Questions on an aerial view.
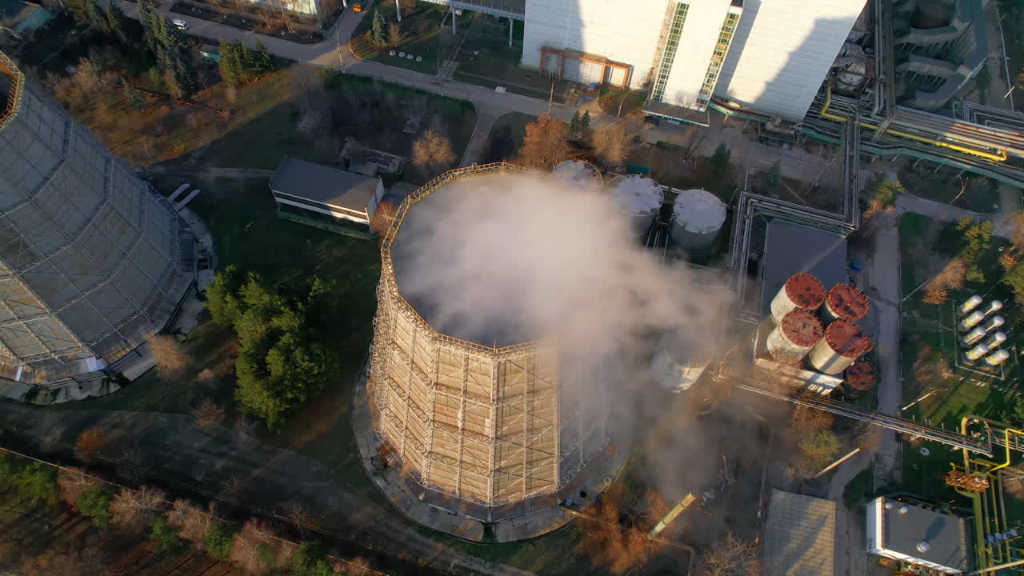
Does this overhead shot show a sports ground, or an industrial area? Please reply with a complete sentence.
This looks like an industrial area.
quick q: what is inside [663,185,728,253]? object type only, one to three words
storage tank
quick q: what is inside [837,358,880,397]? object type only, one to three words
storage tank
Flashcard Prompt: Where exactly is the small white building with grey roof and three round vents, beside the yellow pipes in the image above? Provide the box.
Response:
[871,488,974,575]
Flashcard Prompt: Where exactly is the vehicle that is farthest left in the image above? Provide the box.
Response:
[169,16,187,28]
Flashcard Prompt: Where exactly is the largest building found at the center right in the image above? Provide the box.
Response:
[755,218,847,327]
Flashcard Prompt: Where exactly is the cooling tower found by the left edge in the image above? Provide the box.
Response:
[0,49,216,408]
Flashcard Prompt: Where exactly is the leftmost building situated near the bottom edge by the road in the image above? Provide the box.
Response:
[757,489,838,576]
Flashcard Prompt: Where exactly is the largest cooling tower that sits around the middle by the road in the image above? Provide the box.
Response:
[346,150,646,542]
